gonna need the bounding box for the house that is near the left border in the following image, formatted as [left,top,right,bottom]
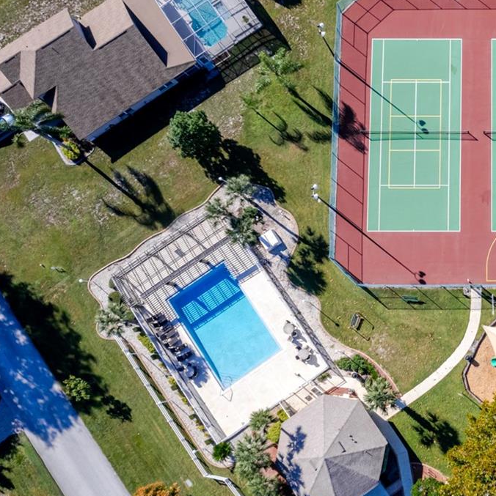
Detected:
[0,0,198,140]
